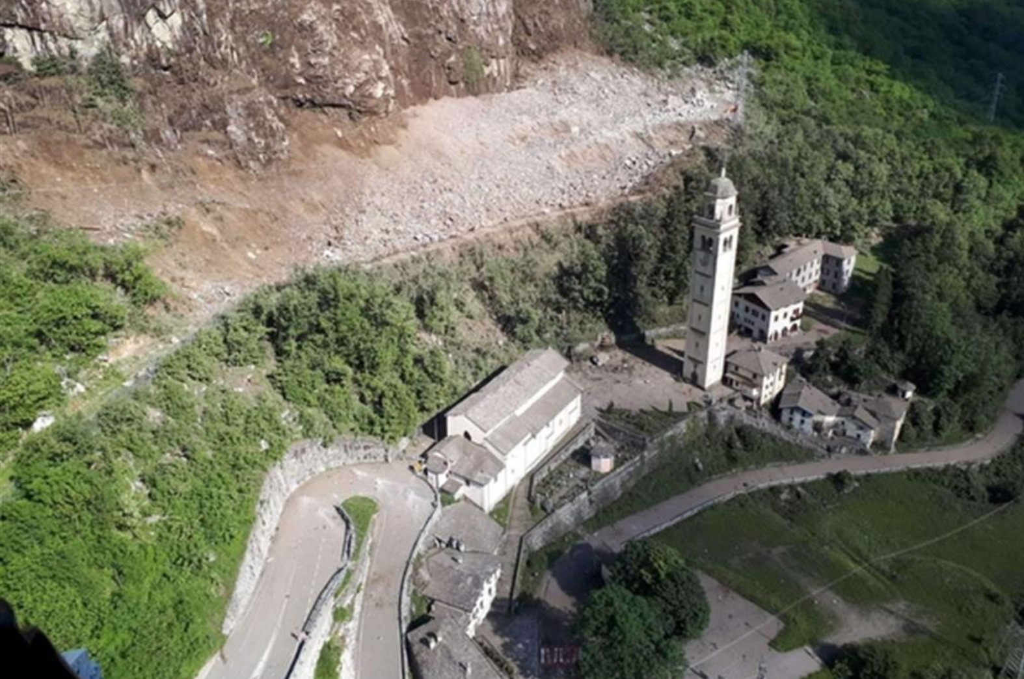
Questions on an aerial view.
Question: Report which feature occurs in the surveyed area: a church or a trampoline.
church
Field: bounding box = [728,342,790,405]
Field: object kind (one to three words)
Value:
house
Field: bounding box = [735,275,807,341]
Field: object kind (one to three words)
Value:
house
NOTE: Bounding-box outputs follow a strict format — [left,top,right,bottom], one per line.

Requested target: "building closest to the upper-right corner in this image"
[810,231,862,293]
